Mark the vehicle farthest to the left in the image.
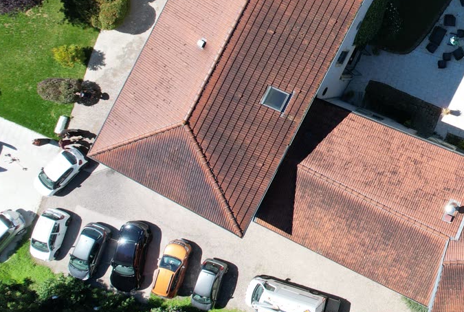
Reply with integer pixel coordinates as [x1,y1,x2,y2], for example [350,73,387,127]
[0,204,34,263]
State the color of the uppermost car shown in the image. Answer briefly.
white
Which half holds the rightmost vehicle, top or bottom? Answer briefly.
bottom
